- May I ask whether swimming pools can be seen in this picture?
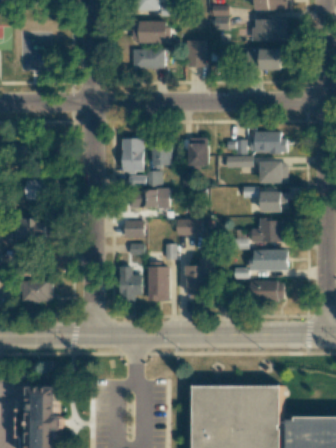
No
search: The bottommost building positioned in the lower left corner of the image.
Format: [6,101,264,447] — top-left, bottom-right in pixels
[22,386,65,448]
